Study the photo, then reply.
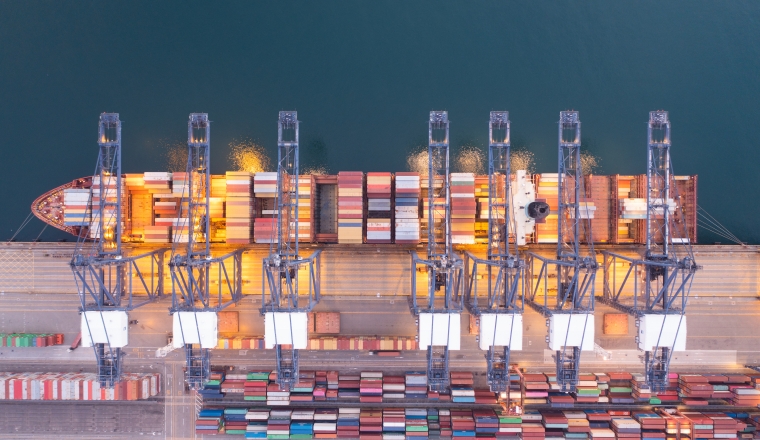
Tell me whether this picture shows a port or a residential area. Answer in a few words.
port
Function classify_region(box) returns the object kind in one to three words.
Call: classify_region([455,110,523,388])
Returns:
container crane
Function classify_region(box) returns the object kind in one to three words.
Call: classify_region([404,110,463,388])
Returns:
container crane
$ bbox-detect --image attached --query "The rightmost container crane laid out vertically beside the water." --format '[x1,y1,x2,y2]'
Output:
[591,110,700,388]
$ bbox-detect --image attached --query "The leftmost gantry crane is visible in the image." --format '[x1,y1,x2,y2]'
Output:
[68,110,180,388]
